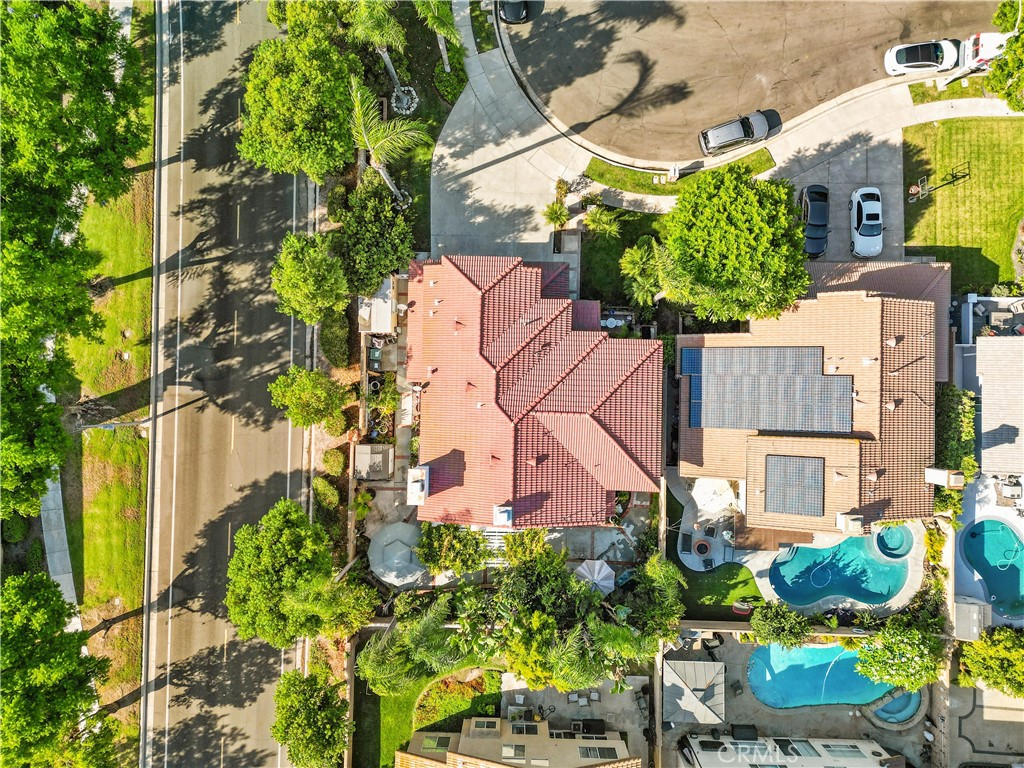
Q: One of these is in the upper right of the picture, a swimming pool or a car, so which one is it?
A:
car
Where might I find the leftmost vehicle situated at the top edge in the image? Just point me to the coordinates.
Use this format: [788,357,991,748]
[497,0,530,28]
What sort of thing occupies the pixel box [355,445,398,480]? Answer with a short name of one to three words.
shed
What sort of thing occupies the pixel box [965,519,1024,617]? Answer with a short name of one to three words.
swimming pool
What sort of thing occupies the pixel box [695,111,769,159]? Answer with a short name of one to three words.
car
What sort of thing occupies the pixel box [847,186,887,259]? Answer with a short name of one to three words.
car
